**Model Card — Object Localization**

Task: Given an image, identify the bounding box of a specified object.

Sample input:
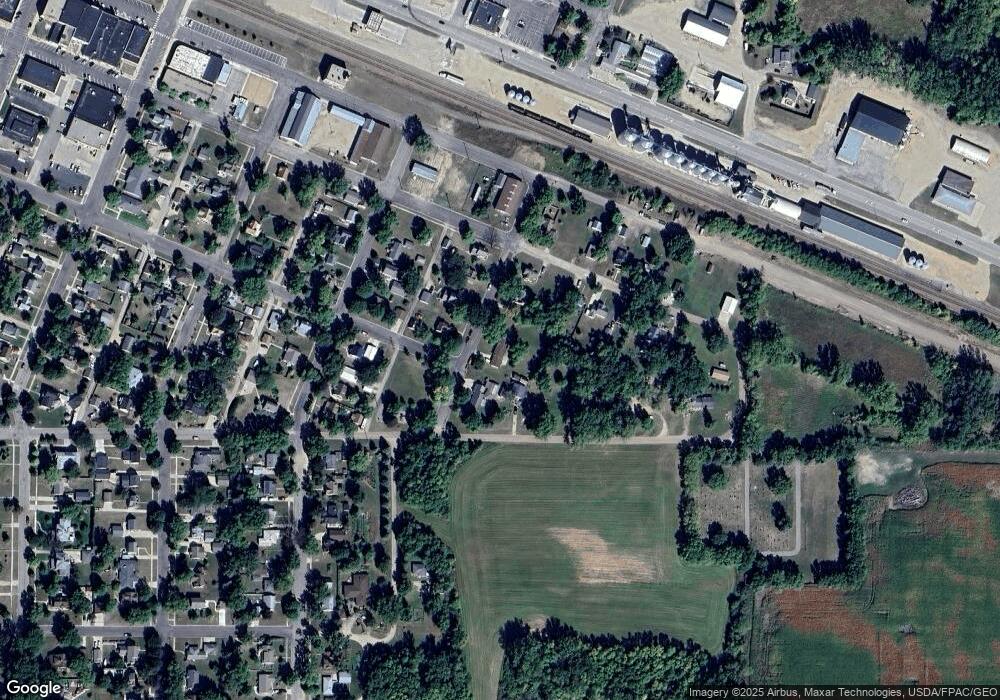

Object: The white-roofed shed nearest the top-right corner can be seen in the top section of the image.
[949,139,990,165]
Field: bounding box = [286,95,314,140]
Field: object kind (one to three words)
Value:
shed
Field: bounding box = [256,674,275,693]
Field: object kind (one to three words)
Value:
house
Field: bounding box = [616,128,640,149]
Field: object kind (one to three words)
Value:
silo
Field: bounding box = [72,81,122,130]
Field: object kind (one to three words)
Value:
building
